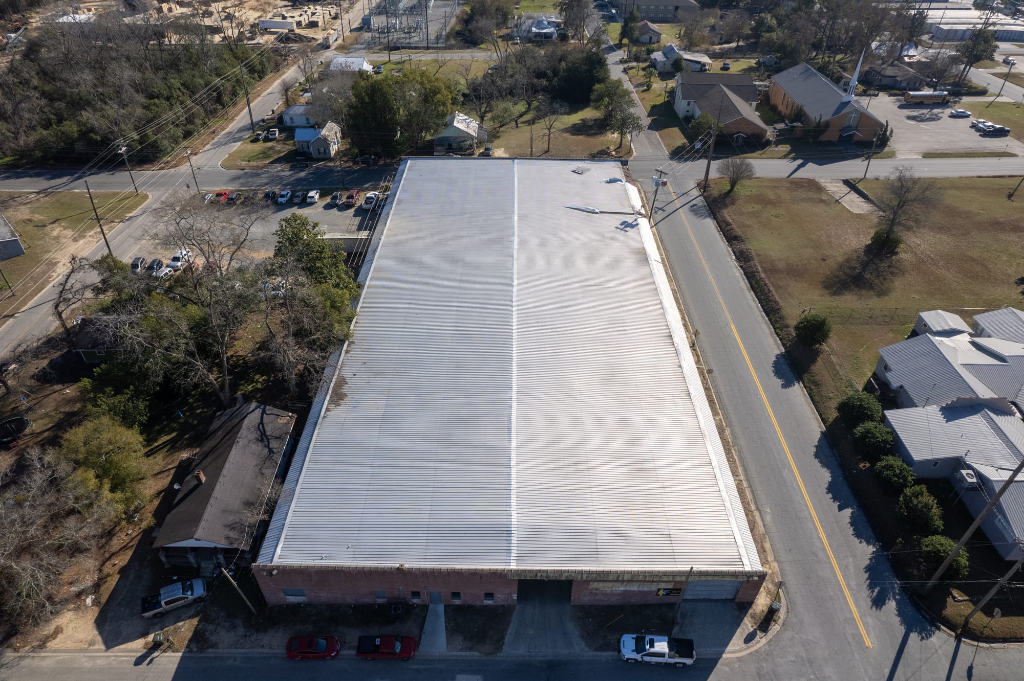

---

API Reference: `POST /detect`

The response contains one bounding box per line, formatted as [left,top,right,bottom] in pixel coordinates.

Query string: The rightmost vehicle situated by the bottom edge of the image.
[622,638,696,674]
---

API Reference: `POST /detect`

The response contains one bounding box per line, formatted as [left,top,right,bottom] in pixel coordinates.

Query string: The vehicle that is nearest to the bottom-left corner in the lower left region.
[138,582,207,621]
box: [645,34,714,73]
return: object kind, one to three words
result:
house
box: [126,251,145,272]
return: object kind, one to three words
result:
car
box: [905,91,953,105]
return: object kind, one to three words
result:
vehicle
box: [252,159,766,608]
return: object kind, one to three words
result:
warehouse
